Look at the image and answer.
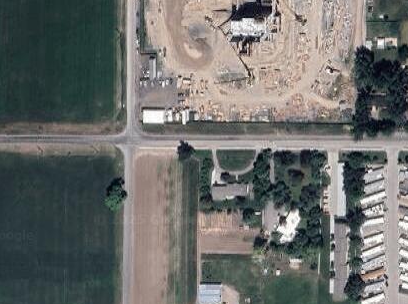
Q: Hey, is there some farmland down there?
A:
Yes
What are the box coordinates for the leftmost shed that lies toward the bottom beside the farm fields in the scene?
[200,283,222,303]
